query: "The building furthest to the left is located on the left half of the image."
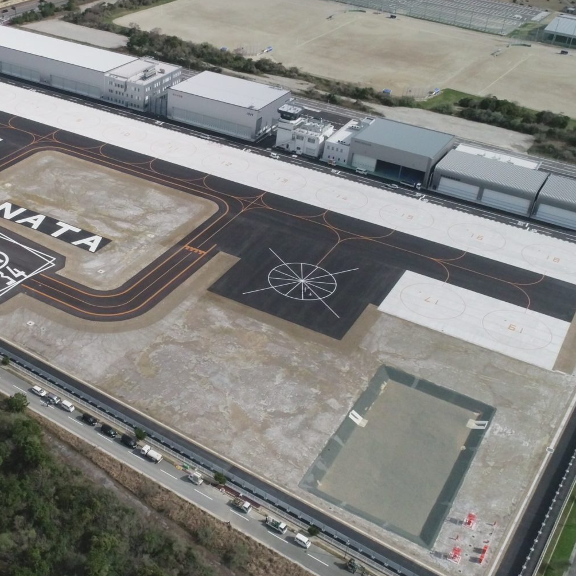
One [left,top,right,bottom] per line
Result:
[0,25,141,100]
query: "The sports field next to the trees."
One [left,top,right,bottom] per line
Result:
[117,0,576,122]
